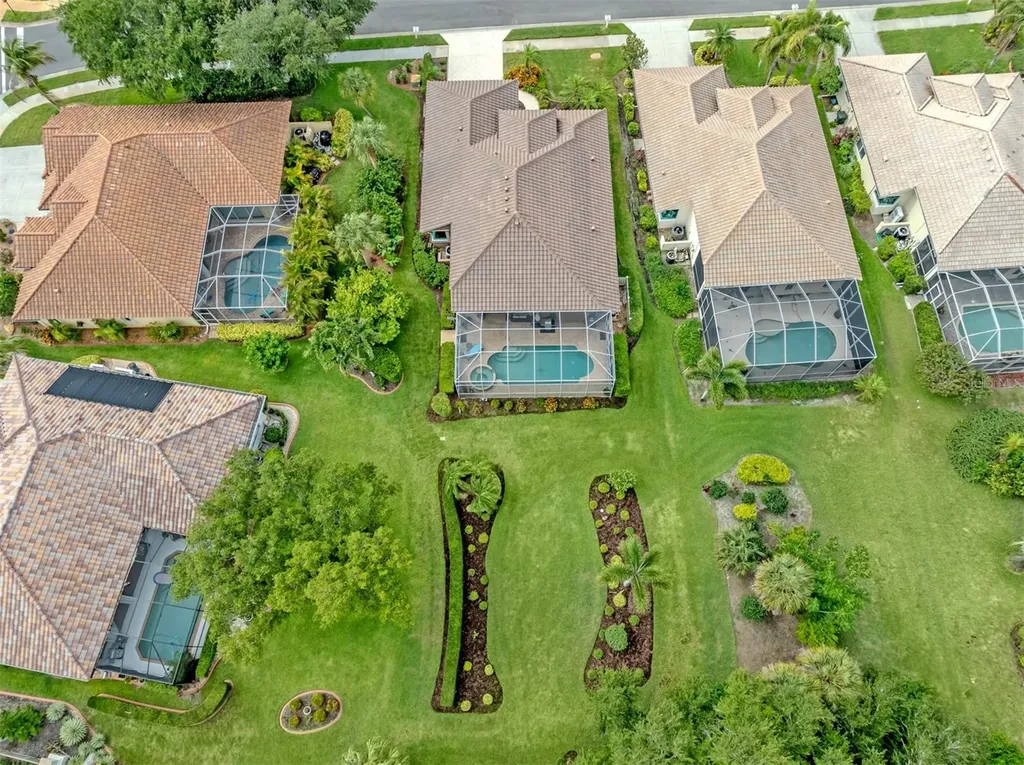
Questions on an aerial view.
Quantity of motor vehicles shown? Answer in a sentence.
No motor vehicles are visible.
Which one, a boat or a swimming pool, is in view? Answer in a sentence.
Visible in the photo is a swimming pool.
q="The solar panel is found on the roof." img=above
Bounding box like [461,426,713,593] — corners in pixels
[44,366,173,412]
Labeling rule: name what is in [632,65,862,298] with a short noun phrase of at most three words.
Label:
house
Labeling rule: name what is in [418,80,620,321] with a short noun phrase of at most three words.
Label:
house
